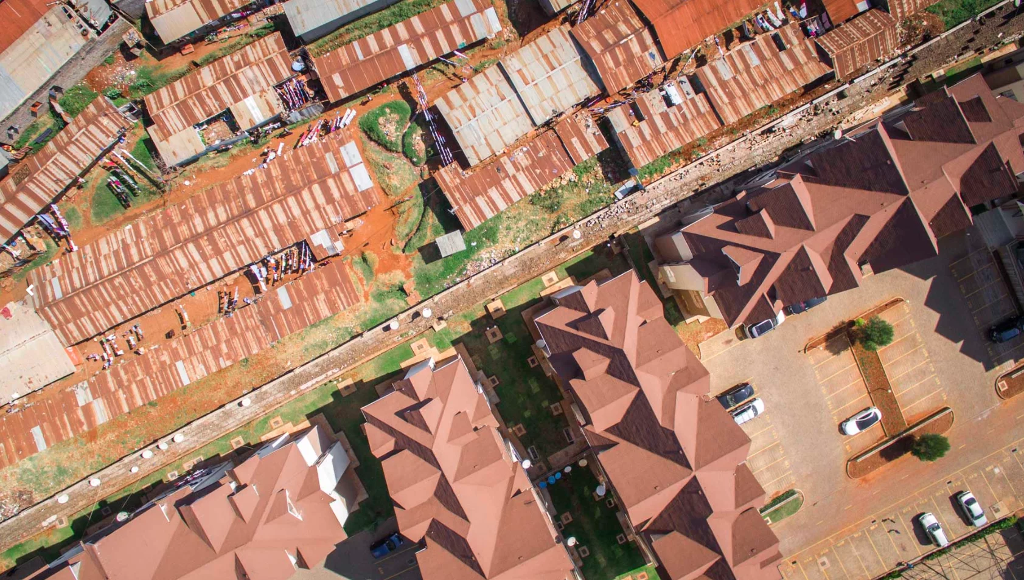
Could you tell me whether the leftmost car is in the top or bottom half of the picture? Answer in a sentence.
The leftmost car is in the bottom half of the image.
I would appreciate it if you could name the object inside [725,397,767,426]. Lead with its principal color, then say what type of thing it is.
white car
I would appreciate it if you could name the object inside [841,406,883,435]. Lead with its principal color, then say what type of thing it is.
white car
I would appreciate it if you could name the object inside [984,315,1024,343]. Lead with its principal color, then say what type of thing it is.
black car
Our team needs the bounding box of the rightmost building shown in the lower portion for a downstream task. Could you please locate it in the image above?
[535,269,783,580]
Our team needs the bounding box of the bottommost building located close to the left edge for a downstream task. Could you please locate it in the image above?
[13,429,362,580]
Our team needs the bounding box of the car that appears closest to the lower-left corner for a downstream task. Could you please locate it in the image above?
[365,530,406,561]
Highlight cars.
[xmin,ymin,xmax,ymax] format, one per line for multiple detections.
[365,530,406,561]
[725,397,767,426]
[713,382,755,412]
[783,296,827,318]
[737,314,782,343]
[917,508,951,550]
[954,488,987,529]
[984,315,1024,343]
[841,406,883,435]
